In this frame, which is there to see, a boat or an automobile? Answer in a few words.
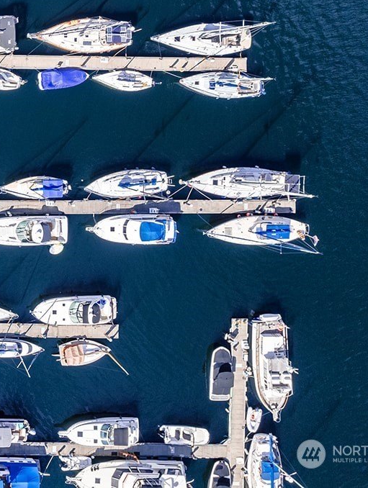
boat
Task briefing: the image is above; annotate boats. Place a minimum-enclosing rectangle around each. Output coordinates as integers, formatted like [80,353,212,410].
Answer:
[91,71,163,91]
[243,431,305,488]
[0,67,28,89]
[0,18,21,53]
[83,168,177,202]
[0,211,71,247]
[62,455,89,470]
[248,405,262,432]
[35,69,96,93]
[0,417,34,449]
[206,461,230,488]
[25,17,140,55]
[0,453,53,488]
[200,214,325,256]
[152,13,280,57]
[0,178,73,200]
[0,336,46,378]
[53,335,131,376]
[160,422,209,448]
[208,346,233,400]
[165,71,276,100]
[169,164,321,205]
[83,214,179,244]
[48,245,64,254]
[59,415,144,448]
[246,315,307,426]
[28,295,119,328]
[64,450,192,488]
